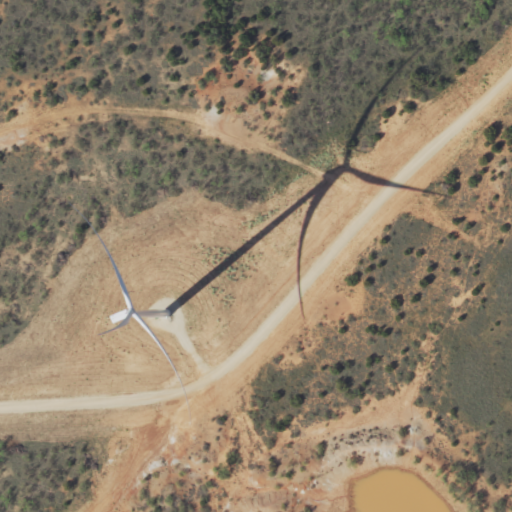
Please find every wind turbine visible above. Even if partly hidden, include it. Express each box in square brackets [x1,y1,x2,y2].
[80,215,186,410]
